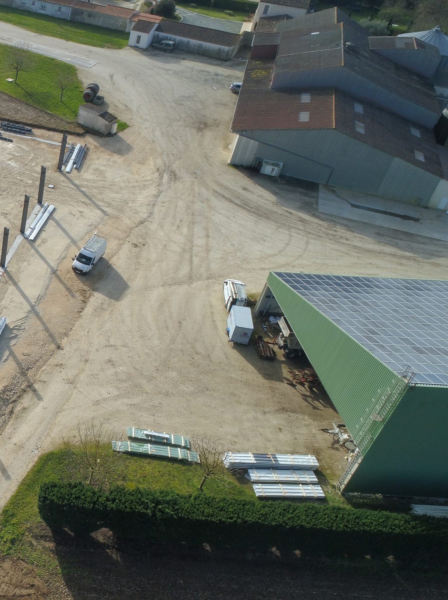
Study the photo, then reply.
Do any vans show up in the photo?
Yes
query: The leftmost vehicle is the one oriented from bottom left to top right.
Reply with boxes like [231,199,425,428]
[74,234,111,274]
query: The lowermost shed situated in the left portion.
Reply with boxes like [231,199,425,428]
[78,101,124,135]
